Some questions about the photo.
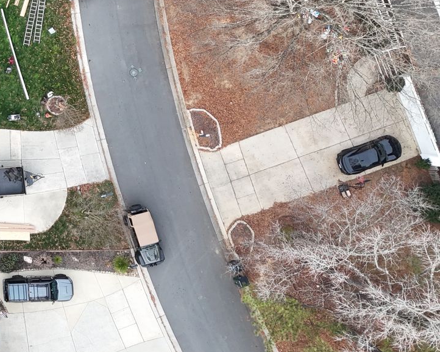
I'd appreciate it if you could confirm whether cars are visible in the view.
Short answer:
Yes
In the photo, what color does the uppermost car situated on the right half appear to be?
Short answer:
black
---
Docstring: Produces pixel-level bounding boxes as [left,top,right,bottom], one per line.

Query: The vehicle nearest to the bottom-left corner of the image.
[3,277,78,307]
